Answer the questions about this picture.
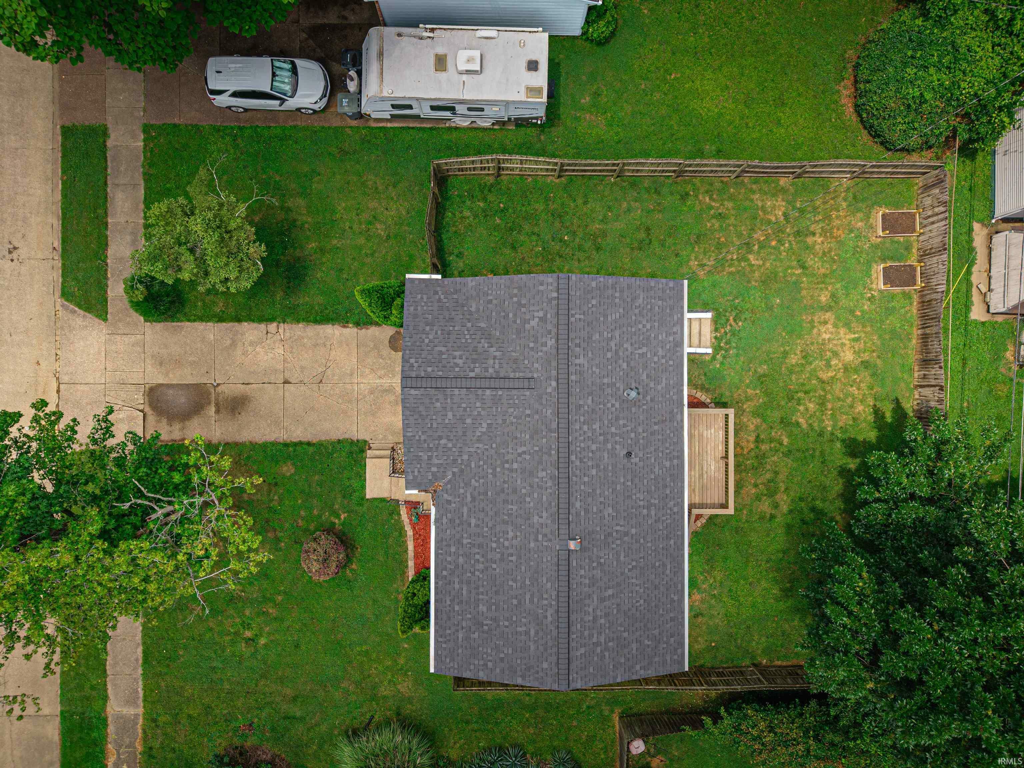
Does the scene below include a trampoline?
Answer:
No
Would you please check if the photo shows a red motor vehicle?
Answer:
No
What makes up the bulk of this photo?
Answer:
grass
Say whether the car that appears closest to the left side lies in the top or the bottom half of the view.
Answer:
top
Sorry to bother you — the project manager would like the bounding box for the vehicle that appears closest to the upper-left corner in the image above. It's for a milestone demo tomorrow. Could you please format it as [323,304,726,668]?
[205,49,332,117]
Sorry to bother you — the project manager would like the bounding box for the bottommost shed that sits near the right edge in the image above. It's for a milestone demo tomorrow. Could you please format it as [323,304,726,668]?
[977,232,1024,312]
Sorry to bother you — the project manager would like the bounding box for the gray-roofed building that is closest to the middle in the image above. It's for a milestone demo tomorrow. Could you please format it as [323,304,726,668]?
[401,274,688,689]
